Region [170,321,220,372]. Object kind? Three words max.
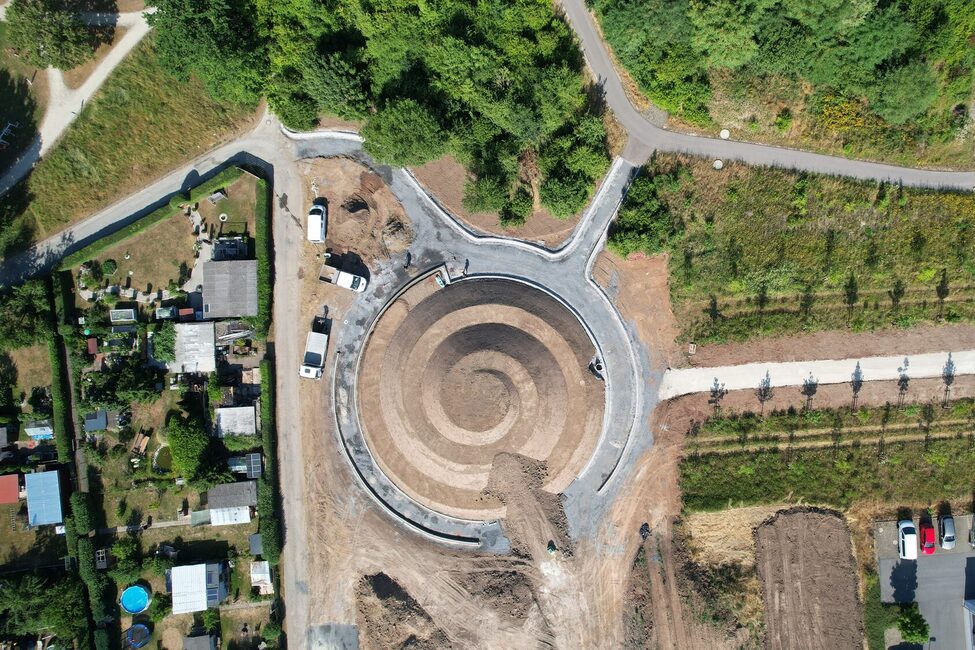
house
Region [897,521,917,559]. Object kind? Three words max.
car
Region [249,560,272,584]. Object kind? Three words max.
shed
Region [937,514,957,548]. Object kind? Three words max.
car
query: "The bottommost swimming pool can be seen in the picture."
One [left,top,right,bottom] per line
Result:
[119,582,152,615]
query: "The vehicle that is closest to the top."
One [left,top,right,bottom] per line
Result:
[308,203,327,243]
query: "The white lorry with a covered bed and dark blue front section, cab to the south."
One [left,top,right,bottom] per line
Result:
[300,327,327,381]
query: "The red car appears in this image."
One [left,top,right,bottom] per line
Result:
[918,524,936,554]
